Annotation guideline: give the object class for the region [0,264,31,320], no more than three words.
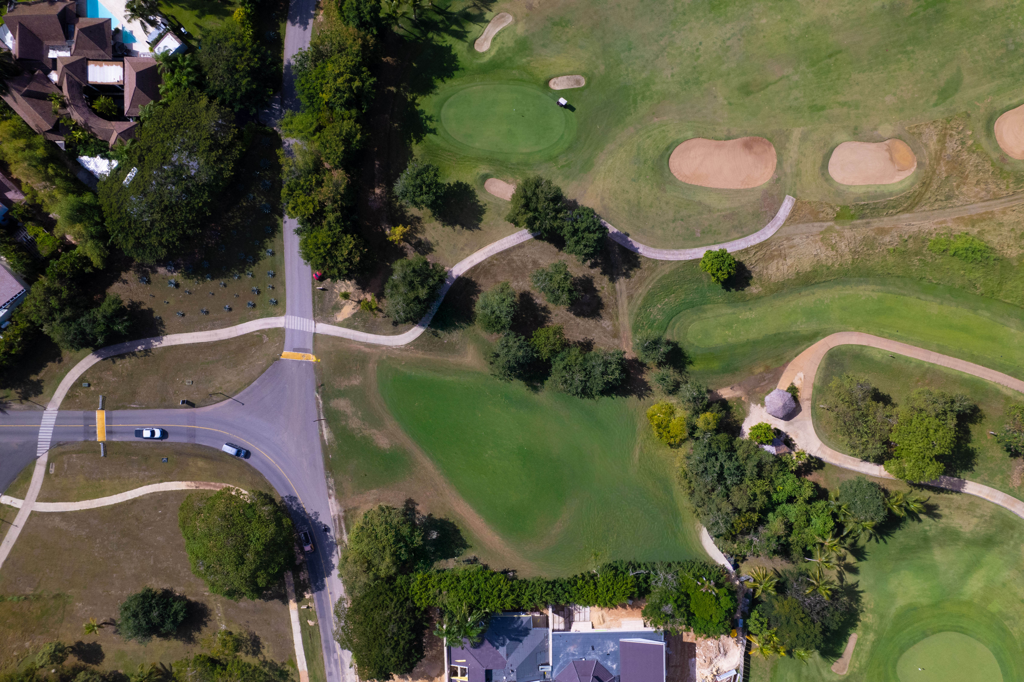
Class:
house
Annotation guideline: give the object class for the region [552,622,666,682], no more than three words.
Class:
house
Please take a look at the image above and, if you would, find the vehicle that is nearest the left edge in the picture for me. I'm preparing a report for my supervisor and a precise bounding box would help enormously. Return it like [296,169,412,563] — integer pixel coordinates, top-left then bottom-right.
[134,428,164,440]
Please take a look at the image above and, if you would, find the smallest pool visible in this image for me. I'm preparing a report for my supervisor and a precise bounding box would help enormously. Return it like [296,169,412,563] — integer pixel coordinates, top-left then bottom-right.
[121,23,139,44]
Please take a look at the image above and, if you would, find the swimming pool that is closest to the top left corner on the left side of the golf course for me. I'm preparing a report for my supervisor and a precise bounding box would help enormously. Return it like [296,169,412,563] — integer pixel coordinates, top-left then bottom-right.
[86,0,121,26]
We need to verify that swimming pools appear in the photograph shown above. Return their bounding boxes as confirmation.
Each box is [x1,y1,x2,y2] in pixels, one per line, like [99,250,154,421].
[121,23,139,44]
[86,0,121,26]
